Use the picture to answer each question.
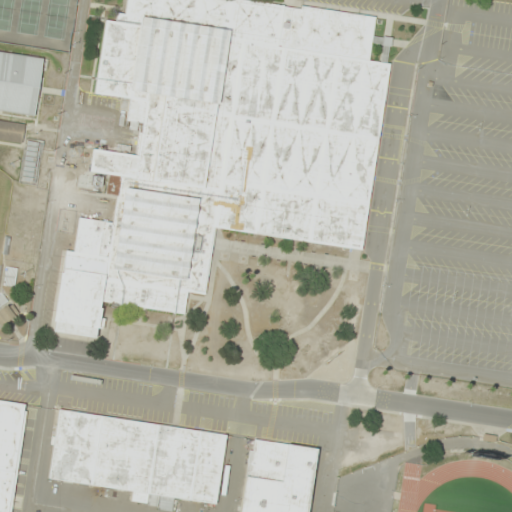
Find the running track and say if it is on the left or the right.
right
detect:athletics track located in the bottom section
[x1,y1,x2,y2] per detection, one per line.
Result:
[398,460,512,512]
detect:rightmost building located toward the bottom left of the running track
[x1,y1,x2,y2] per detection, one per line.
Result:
[242,438,321,512]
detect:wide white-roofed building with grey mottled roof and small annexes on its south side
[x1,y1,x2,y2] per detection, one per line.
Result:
[49,410,228,512]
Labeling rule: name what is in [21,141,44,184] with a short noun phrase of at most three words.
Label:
shed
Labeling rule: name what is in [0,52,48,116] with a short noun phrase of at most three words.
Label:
building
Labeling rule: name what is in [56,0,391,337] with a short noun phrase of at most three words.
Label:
building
